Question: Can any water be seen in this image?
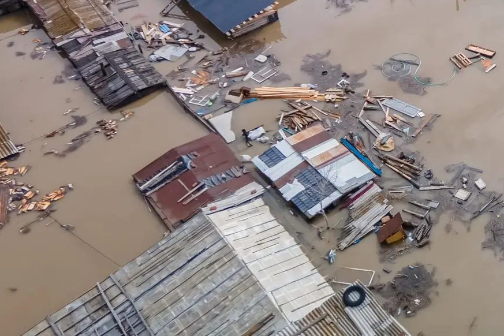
Yes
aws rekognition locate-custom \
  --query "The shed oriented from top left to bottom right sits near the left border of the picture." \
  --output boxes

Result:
[21,0,168,112]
